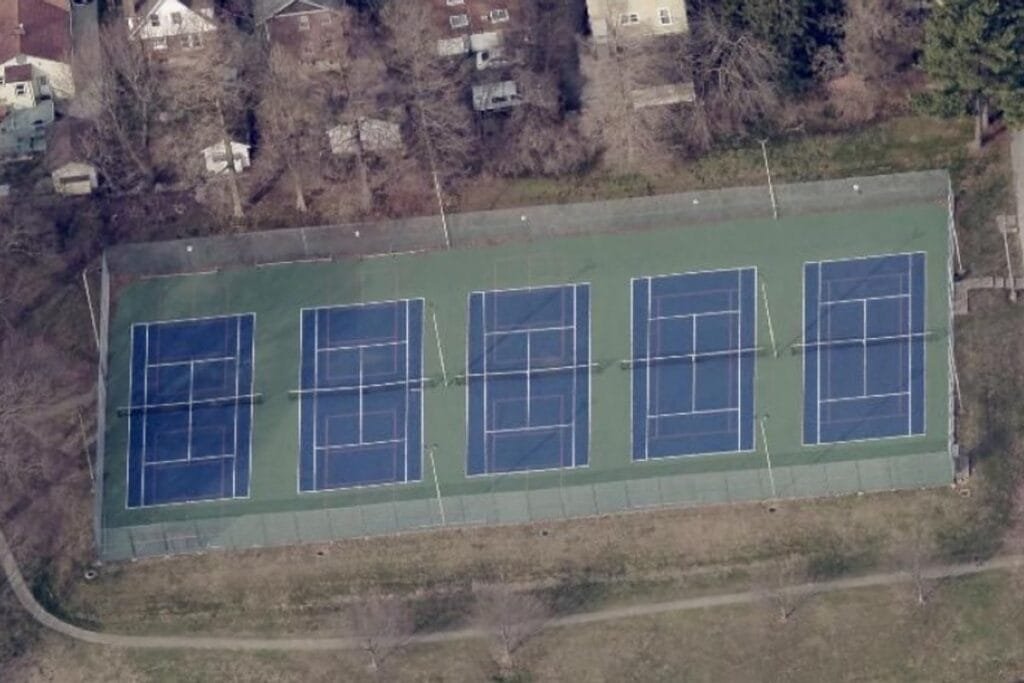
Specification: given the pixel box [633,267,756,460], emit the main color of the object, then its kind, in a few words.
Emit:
blue tennis court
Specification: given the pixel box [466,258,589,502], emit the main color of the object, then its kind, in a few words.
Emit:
blue tennis court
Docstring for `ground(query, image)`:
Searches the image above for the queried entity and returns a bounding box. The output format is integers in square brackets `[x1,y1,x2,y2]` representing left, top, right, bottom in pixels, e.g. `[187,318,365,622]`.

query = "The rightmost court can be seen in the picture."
[801,252,928,445]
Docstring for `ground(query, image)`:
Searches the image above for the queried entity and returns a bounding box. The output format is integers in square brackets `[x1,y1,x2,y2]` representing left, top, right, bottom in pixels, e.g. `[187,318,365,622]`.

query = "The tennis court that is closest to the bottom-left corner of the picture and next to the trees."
[126,290,254,533]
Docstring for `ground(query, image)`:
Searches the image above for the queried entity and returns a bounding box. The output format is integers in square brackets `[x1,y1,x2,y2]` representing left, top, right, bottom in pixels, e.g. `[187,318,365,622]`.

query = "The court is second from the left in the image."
[298,274,423,518]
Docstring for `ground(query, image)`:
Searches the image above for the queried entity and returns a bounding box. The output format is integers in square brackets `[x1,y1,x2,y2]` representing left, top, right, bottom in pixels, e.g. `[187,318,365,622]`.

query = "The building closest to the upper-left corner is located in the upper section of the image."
[0,0,79,115]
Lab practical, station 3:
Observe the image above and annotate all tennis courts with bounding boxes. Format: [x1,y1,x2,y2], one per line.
[633,267,756,460]
[298,274,423,518]
[126,290,254,533]
[801,252,928,445]
[466,258,589,502]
